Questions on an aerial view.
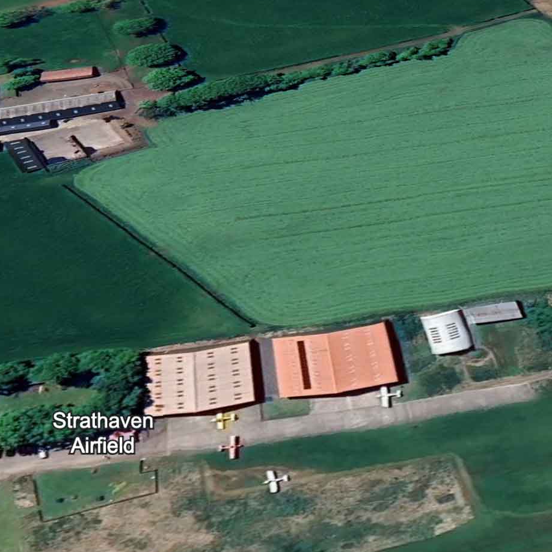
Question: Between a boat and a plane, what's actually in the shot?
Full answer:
There is a plane in the scene.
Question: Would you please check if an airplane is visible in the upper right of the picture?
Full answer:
No, I can find no airplane in the upper right of the picture.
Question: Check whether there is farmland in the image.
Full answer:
Yes, the picture does contain farmland.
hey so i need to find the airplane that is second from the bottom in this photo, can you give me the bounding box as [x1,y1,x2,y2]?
[220,433,244,459]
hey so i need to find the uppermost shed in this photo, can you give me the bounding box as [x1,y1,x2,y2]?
[40,66,96,85]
